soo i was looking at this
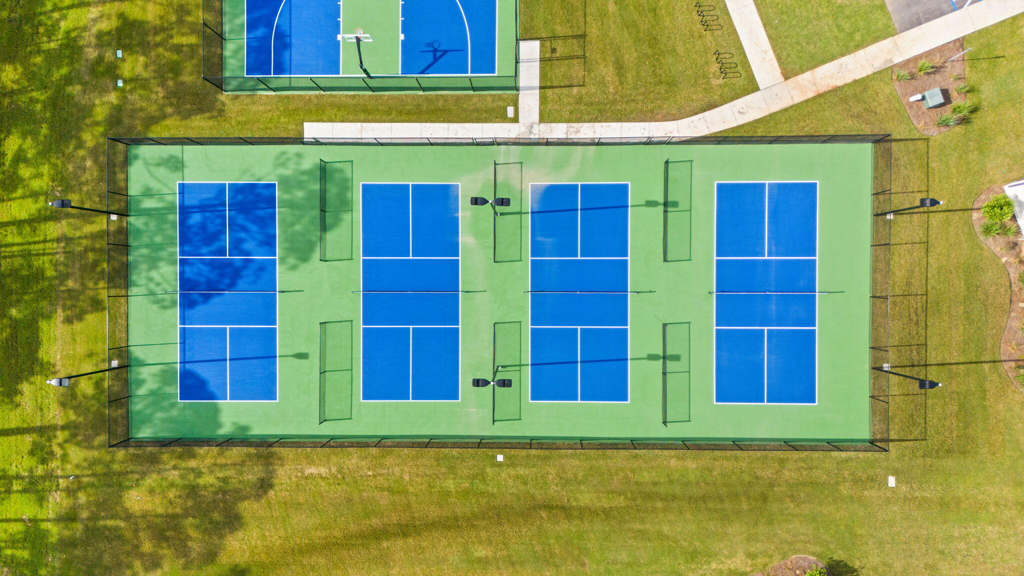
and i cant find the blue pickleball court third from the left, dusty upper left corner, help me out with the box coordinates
[529,182,630,403]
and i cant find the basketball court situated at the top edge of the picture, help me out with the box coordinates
[222,0,521,95]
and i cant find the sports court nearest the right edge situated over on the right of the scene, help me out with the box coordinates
[714,181,819,405]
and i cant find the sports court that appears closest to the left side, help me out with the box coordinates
[177,181,278,402]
